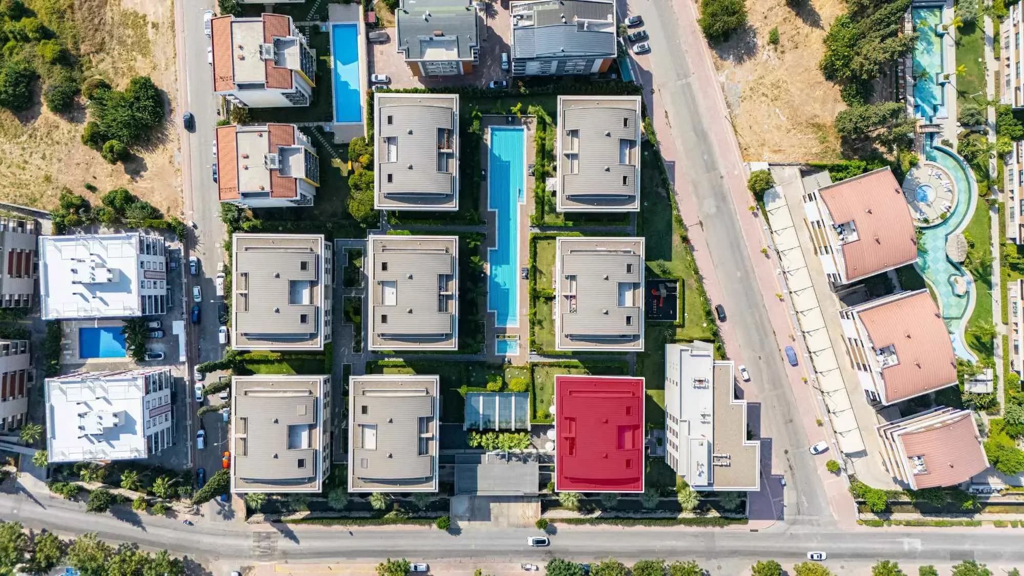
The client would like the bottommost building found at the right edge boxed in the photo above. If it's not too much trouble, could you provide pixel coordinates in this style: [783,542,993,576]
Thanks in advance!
[877,404,988,492]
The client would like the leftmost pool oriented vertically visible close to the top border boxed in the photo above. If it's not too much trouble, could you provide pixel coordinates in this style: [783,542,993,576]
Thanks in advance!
[329,21,362,125]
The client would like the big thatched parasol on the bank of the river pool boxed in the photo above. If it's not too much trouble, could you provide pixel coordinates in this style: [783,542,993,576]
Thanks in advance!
[943,237,965,259]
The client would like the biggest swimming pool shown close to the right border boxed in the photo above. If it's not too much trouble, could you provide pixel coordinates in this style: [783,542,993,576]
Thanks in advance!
[910,3,981,366]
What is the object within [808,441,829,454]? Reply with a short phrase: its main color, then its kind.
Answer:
white vehicle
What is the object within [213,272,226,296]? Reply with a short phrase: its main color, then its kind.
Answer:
white vehicle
